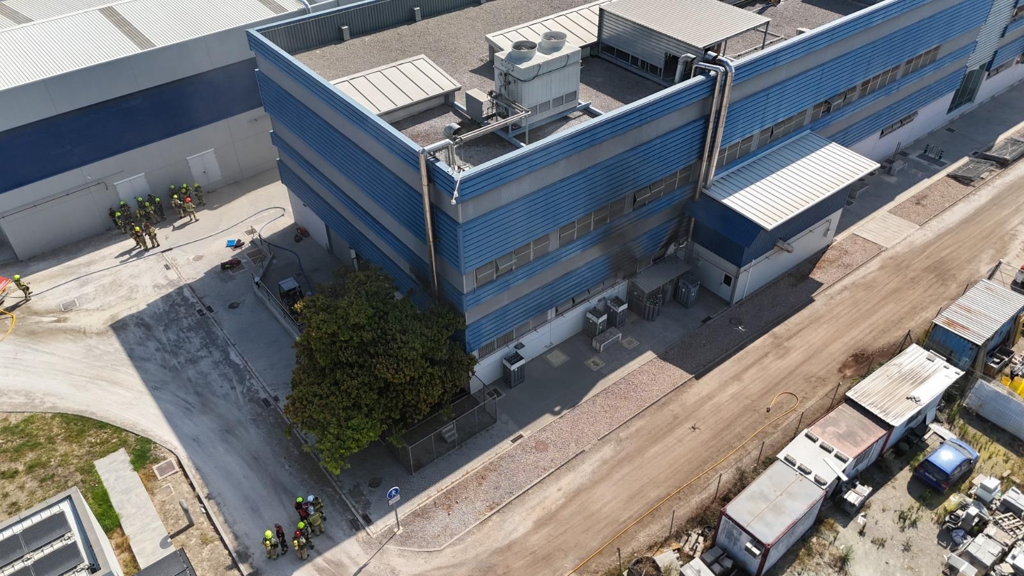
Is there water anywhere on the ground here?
No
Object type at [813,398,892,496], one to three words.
building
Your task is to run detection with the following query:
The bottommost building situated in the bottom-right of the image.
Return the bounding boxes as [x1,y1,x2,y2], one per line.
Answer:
[714,460,827,576]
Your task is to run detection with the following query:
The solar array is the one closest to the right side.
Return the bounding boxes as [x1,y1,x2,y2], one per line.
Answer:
[134,549,195,576]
